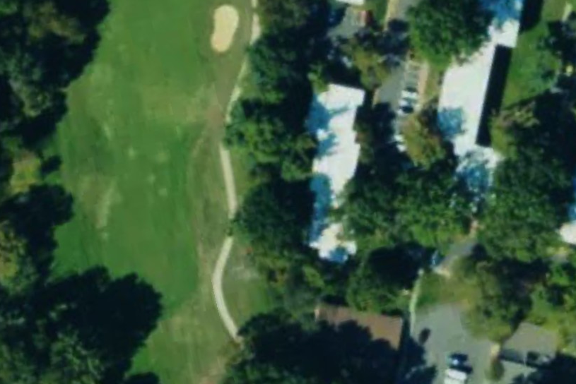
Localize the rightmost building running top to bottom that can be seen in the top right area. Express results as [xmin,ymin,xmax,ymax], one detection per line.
[438,0,524,201]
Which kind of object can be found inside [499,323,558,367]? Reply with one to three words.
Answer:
building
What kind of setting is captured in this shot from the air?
golf course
